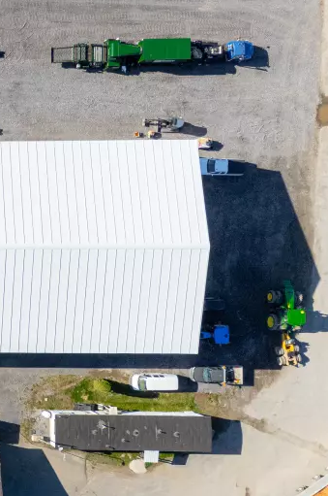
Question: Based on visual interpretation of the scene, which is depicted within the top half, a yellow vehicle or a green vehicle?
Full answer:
You can see a green vehicle within the top half.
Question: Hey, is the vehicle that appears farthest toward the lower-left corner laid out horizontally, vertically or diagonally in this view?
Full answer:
From this overhead view, the vehicle that appears farthest toward the lower-left corner appears to run horizontally.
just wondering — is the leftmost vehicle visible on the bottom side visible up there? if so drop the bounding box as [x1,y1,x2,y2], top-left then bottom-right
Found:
[128,372,182,394]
